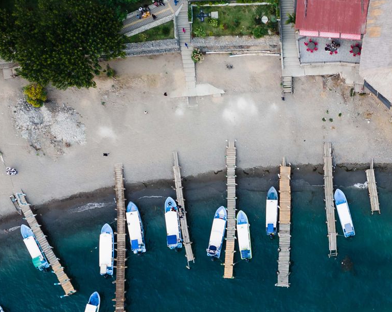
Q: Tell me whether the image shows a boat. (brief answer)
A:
Yes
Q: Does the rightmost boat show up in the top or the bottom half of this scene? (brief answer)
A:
bottom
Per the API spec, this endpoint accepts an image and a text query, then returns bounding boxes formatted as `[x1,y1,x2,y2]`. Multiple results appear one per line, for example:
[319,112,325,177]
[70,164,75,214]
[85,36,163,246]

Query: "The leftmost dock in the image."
[15,193,75,298]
